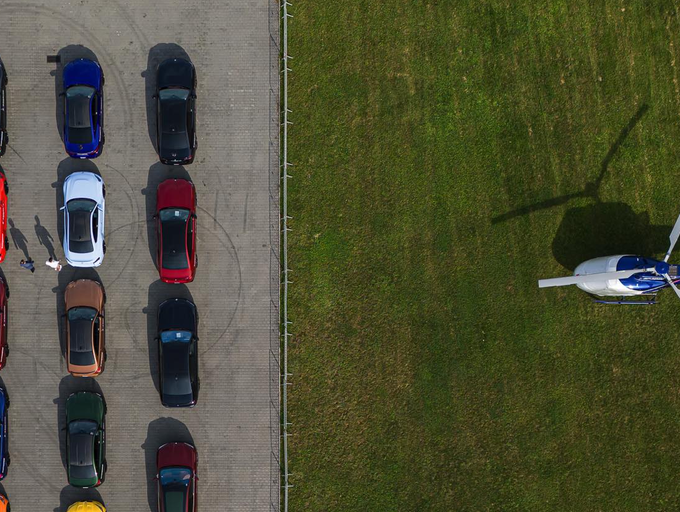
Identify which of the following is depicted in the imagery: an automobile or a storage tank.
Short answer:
automobile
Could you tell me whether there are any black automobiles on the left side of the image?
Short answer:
Yes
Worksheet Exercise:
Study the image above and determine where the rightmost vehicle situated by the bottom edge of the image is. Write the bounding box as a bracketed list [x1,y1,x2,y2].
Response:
[152,442,201,512]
